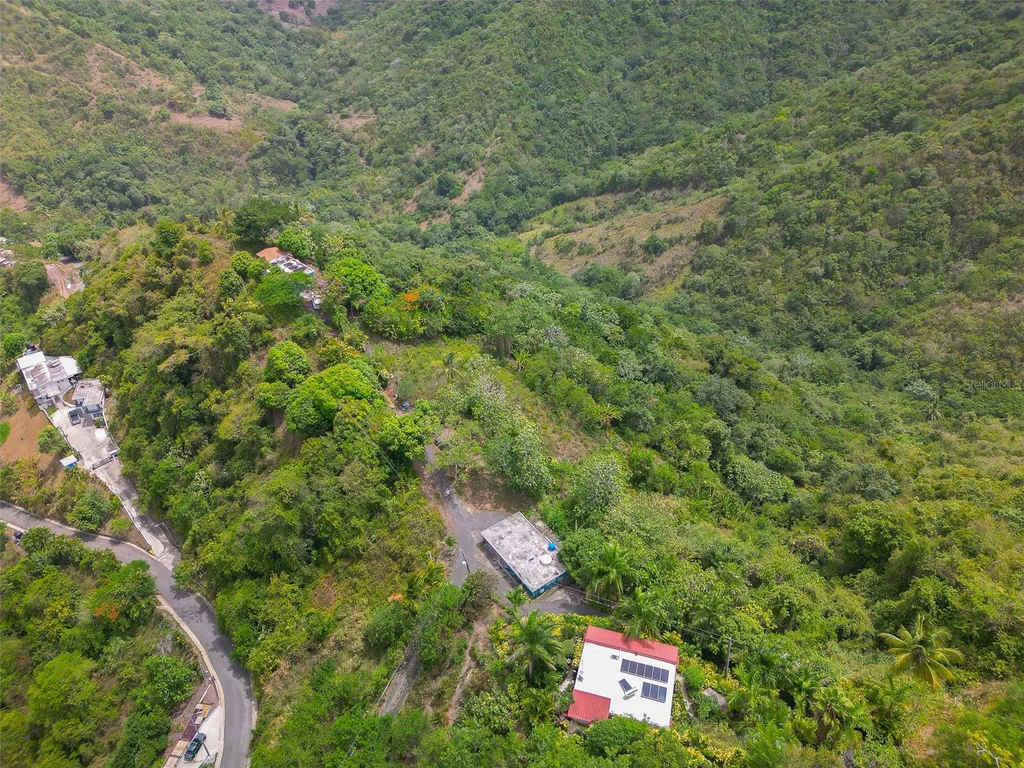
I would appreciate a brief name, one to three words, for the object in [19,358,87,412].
house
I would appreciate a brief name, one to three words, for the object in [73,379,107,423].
house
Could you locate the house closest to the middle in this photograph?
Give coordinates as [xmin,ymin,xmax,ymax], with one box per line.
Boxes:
[479,512,566,595]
